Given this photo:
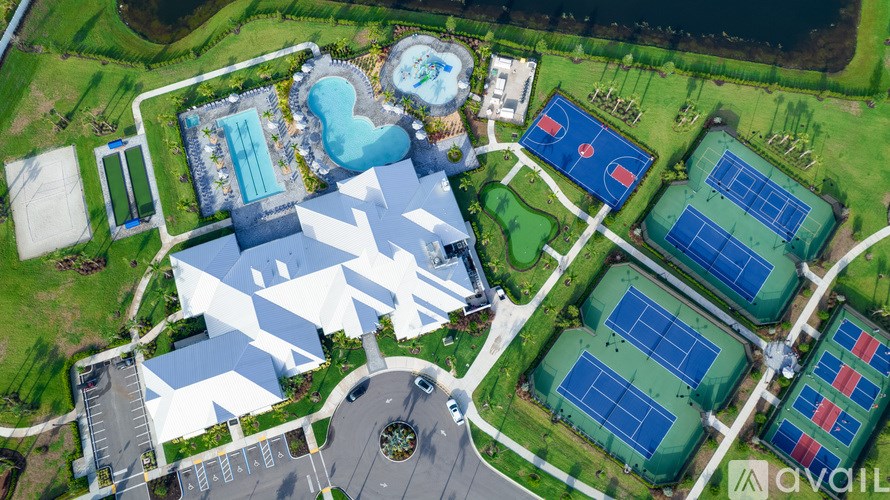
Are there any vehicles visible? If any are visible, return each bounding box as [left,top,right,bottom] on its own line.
[413,377,435,395]
[447,398,464,425]
[120,358,132,367]
[79,382,95,390]
[346,383,368,403]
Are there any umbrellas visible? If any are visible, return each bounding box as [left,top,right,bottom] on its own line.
[412,121,422,130]
[780,365,795,379]
[416,131,426,141]
[296,122,307,132]
[311,160,322,171]
[302,63,313,74]
[393,105,403,116]
[267,121,278,131]
[229,94,240,104]
[458,81,468,91]
[204,144,216,154]
[298,146,309,157]
[217,170,229,180]
[293,112,303,122]
[382,103,393,112]
[319,166,329,177]
[294,73,304,83]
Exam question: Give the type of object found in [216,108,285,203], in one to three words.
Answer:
swimming pool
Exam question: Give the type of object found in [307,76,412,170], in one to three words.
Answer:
swimming pool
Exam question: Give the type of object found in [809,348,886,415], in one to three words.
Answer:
sports court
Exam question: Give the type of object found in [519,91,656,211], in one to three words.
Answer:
basketball court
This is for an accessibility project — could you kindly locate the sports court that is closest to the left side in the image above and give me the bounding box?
[5,145,92,260]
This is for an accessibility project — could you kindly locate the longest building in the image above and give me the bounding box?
[142,159,494,443]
